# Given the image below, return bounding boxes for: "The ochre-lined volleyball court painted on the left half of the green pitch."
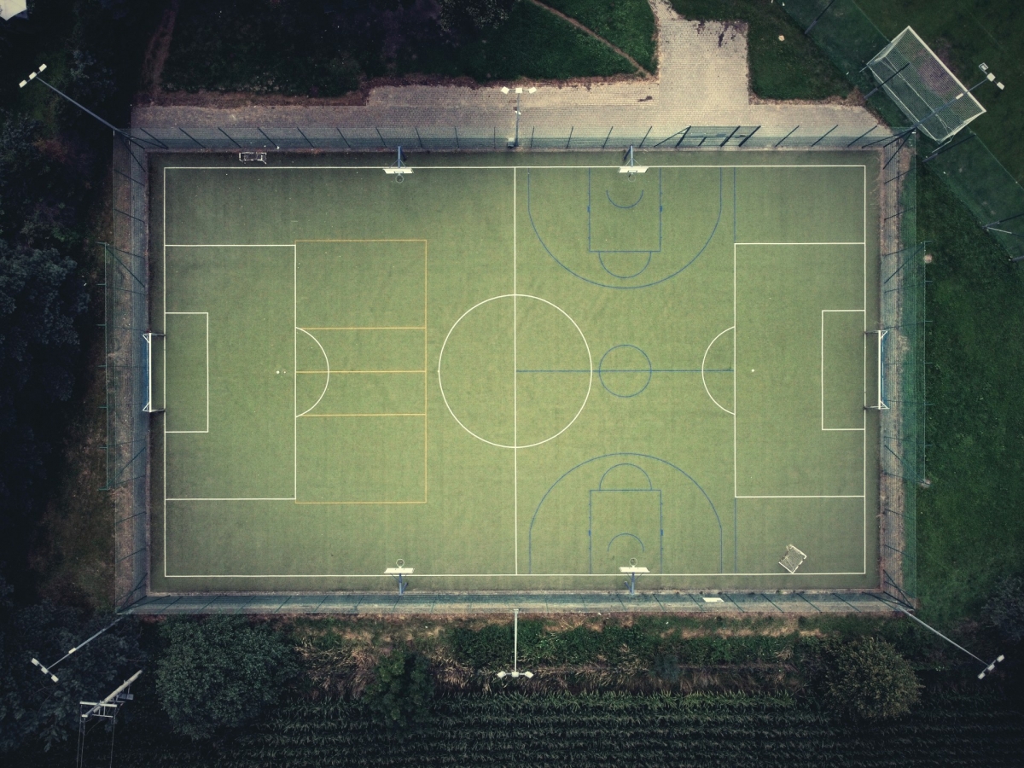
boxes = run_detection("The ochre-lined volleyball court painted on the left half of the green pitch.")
[296,239,427,504]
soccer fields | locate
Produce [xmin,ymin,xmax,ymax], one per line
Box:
[146,148,884,595]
